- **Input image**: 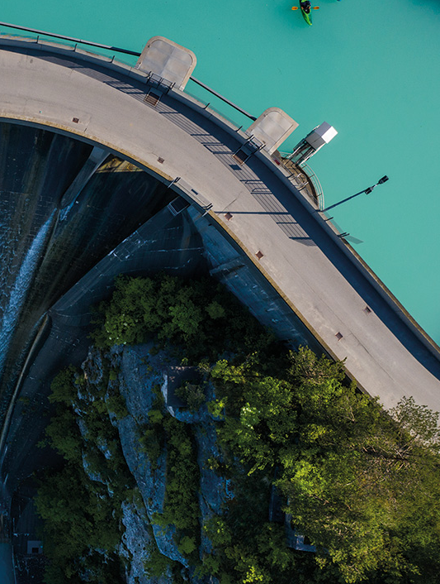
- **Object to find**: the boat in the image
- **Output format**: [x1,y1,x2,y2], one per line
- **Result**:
[301,0,314,24]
